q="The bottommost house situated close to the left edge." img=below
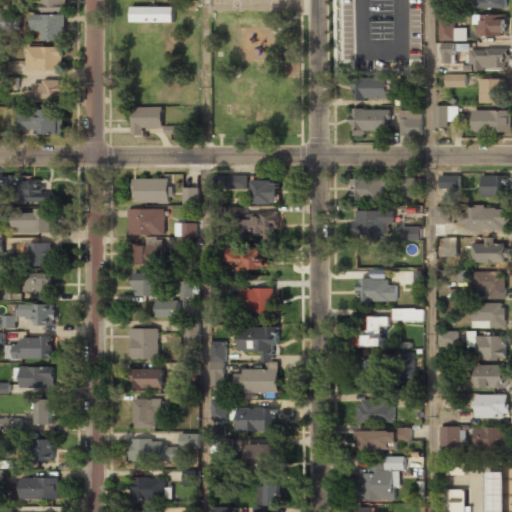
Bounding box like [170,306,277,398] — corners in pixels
[16,478,60,500]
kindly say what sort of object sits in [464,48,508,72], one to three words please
house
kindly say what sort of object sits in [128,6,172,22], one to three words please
shed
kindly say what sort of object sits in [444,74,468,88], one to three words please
building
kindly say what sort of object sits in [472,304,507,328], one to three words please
house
